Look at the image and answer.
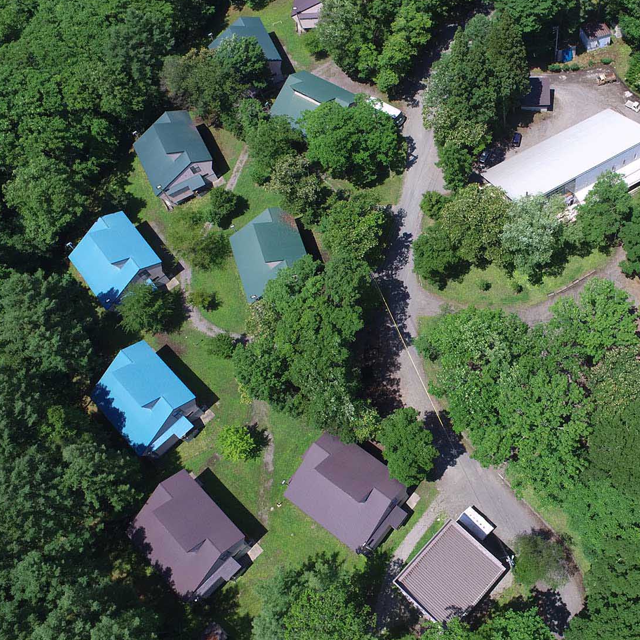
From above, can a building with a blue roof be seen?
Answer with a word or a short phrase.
Yes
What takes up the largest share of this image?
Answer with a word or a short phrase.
trees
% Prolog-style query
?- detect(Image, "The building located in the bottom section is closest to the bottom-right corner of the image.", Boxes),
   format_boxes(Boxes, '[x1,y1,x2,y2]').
[393,521,507,631]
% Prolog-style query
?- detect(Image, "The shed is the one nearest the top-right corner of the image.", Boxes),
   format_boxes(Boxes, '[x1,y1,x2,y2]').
[583,23,611,53]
